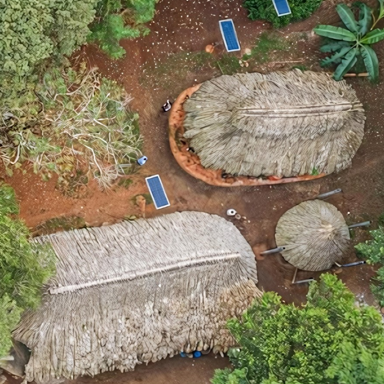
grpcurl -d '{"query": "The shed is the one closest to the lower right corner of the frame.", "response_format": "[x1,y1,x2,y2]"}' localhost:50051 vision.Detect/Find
[272,195,355,274]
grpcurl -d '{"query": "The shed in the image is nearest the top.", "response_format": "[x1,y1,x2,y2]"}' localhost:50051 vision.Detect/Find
[167,66,371,189]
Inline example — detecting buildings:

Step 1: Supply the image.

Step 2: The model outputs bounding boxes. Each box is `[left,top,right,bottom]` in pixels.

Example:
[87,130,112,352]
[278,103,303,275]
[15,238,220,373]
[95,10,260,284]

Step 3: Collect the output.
[2,205,267,384]
[272,195,355,274]
[167,66,371,189]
